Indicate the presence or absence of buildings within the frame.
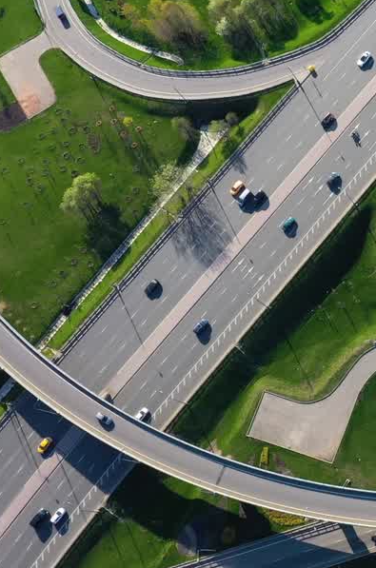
No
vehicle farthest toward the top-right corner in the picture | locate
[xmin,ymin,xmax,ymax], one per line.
[355,50,372,68]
